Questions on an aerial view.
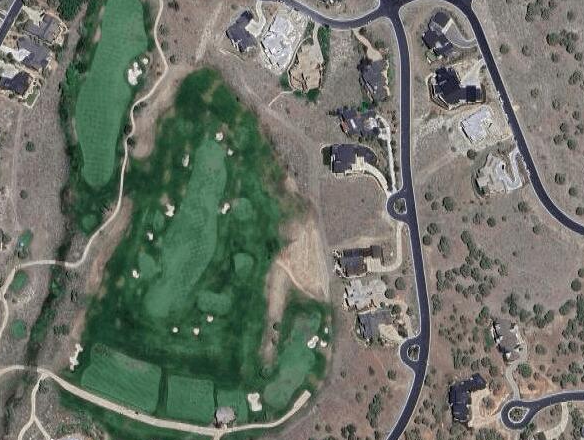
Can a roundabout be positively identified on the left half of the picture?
No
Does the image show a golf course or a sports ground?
golf course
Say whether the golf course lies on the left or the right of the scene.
left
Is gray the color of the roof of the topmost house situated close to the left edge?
Yes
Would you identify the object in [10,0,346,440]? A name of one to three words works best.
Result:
golf course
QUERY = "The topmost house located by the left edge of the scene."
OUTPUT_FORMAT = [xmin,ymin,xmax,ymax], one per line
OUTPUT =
[21,12,61,44]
